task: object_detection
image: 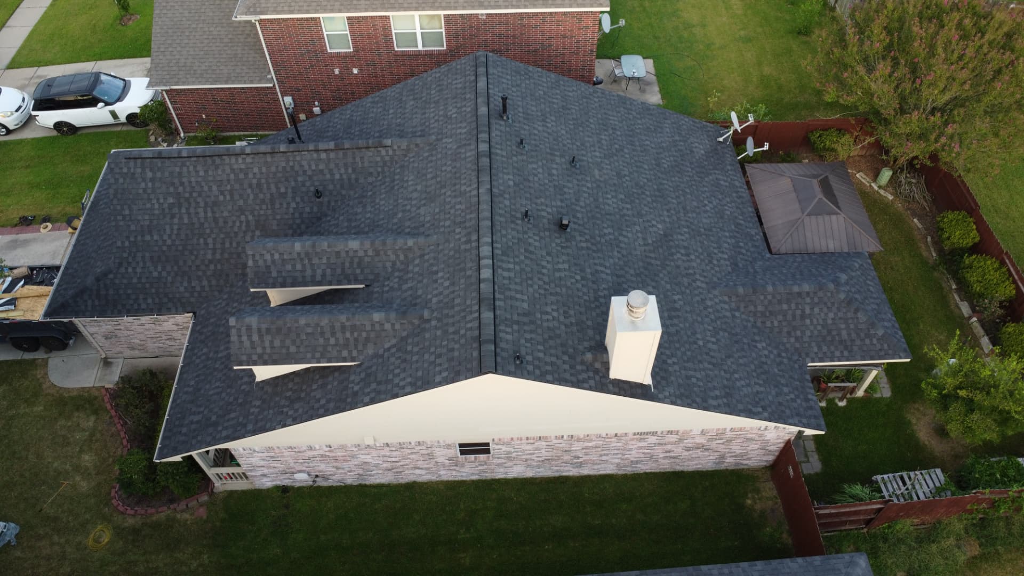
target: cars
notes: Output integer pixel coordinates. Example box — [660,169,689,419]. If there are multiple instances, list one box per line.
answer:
[0,76,38,125]
[36,68,159,127]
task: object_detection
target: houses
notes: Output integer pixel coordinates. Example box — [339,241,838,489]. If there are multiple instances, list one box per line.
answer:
[582,551,869,576]
[40,52,915,491]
